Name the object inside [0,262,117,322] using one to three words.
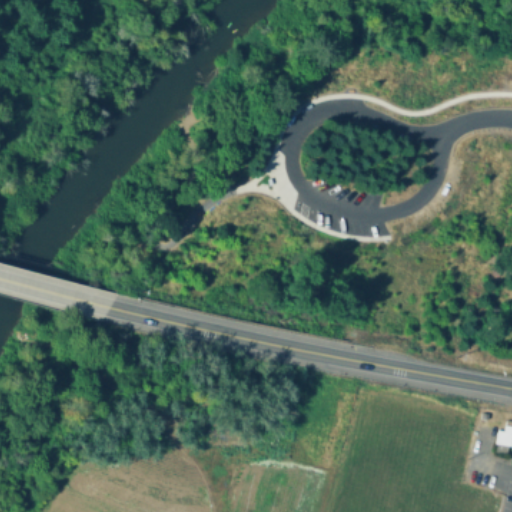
bridge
